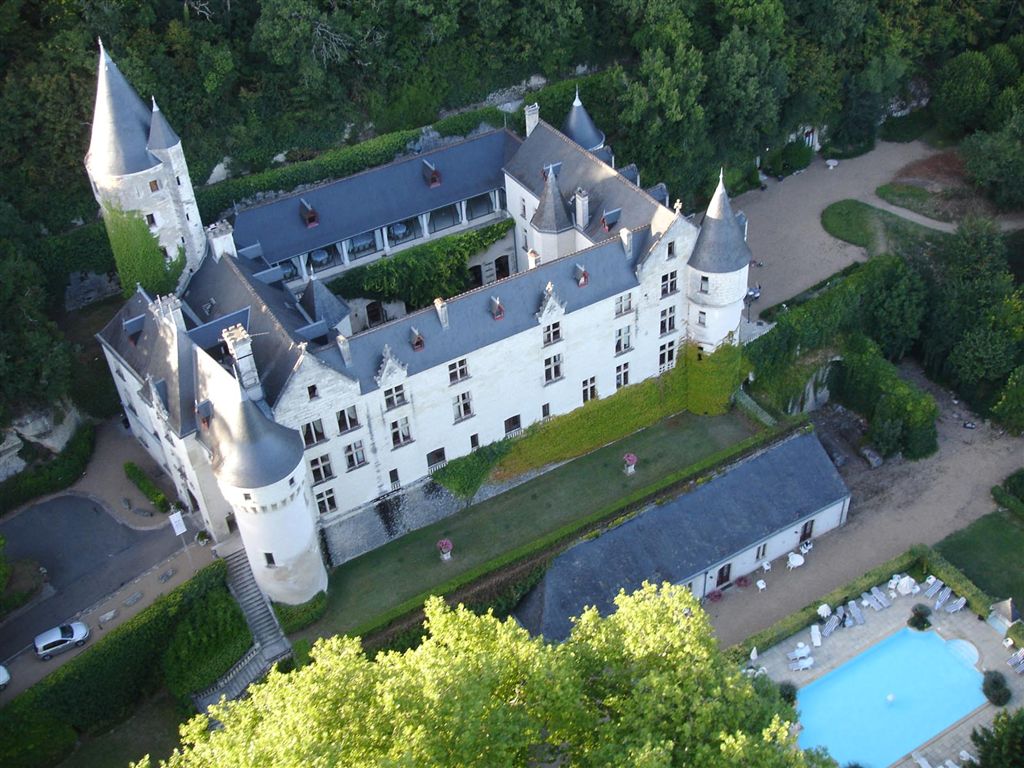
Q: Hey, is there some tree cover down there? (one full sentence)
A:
Yes, there is tree cover in the image.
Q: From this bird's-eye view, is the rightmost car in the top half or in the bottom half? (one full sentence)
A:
The bottom half of the photo is where the rightmost car is.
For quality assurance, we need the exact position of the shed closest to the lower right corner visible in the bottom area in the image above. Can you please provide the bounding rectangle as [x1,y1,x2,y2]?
[991,595,1024,625]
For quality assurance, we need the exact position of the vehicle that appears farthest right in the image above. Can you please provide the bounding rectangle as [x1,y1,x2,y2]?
[29,621,90,659]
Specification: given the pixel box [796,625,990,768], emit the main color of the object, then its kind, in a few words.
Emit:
blue swimming pool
